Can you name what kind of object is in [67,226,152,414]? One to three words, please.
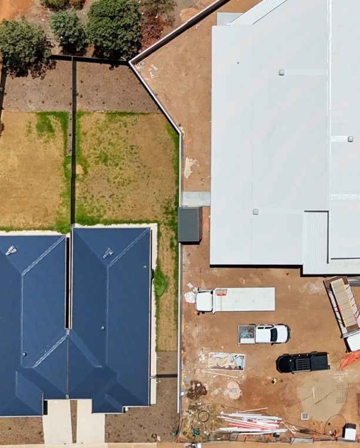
house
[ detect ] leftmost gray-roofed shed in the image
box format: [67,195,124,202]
[177,207,202,242]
